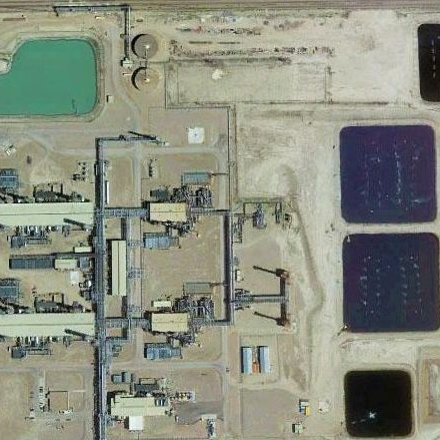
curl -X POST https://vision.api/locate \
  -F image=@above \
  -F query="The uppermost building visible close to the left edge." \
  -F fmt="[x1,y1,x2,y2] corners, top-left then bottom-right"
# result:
[0,202,94,226]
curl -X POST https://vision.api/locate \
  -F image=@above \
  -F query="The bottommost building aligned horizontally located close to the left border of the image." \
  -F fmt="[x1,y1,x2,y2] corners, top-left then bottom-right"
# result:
[0,314,95,337]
